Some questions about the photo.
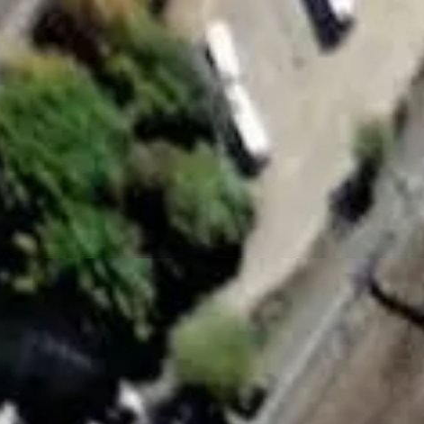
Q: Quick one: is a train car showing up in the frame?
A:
No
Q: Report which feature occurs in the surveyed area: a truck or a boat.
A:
truck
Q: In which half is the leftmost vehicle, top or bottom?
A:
bottom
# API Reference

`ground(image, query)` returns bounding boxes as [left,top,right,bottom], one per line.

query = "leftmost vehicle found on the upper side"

[204,27,241,80]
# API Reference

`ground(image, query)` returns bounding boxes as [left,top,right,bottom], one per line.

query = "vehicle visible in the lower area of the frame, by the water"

[120,383,144,416]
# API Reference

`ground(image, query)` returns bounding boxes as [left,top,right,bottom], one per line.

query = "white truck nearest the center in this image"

[222,79,269,153]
